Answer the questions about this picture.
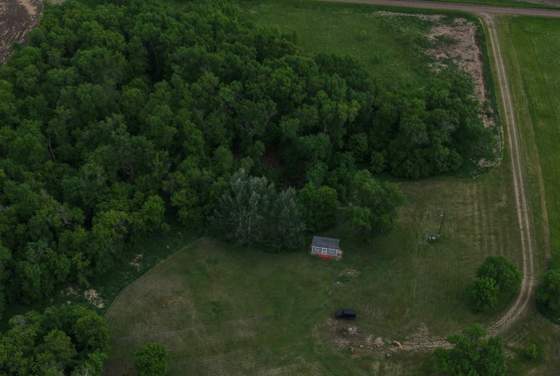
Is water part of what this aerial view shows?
No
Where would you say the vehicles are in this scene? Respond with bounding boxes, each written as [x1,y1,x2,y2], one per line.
[334,307,357,320]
